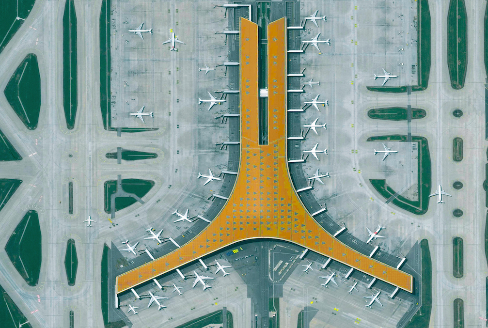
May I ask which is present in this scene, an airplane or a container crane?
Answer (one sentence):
Of the two, only an airplane appears.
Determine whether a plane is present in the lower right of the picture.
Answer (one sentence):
Yes, a plane appears in the lower right of the picture.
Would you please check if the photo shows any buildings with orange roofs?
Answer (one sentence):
Yes, the image includes a building with an orange roof.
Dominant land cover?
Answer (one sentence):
For the most part, this view shows paved ground.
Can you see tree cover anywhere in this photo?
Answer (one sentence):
No, the scene doesn't show any tree cover.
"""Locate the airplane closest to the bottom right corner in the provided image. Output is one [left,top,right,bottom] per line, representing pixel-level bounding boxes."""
[362,292,383,309]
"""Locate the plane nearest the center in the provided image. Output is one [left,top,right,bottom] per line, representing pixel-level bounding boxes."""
[197,169,221,186]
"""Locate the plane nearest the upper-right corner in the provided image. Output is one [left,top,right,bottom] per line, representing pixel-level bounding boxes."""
[374,67,398,85]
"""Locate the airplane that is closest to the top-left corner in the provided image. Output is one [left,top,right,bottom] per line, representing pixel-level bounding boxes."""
[128,22,153,40]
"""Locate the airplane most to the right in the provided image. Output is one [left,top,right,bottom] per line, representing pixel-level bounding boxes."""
[430,185,451,204]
